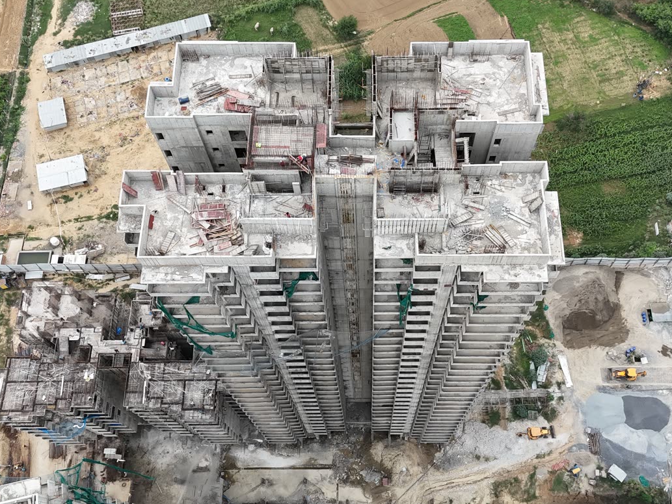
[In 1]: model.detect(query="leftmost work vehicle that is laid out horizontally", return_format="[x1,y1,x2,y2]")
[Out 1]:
[515,425,557,439]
